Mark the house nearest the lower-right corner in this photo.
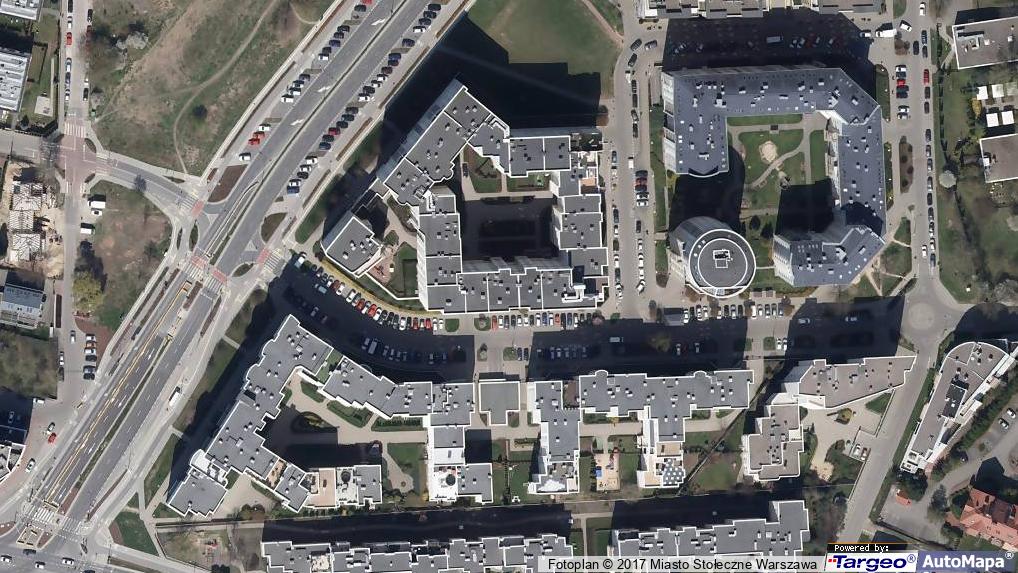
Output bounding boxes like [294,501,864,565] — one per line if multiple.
[954,482,1018,551]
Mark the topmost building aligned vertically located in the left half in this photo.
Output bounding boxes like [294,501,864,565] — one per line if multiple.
[0,50,29,110]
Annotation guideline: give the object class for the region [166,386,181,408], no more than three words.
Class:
vehicle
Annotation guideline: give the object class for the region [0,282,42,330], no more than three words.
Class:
house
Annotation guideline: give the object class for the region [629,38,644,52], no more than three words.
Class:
vehicle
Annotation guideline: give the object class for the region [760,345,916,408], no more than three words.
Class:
building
